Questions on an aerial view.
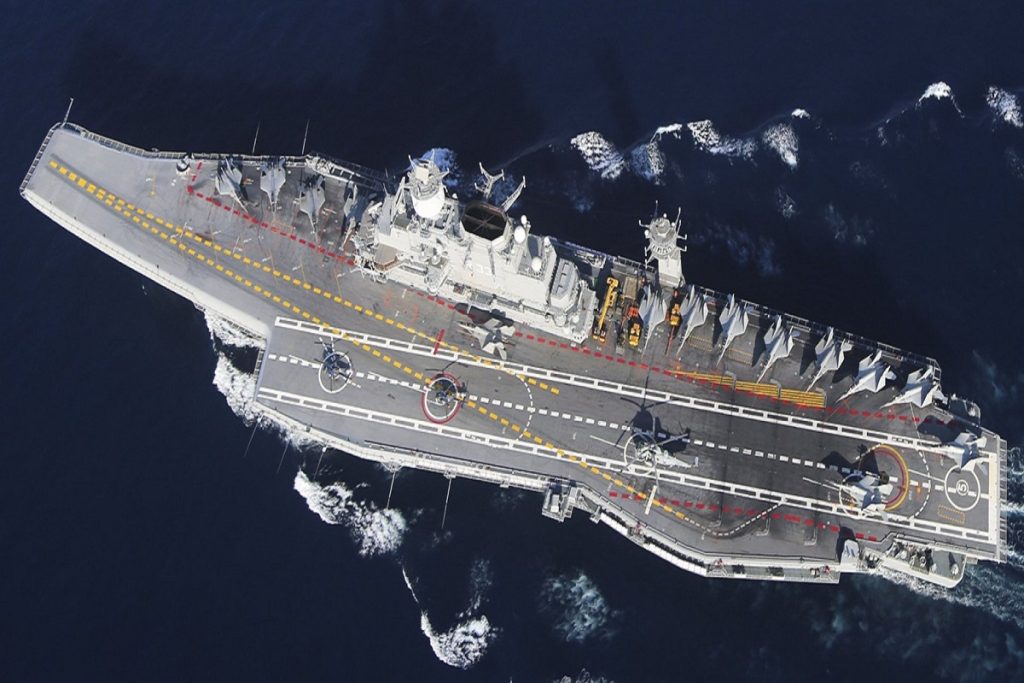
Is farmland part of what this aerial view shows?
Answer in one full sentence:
No, there is no farmland in the image.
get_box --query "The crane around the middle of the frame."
[595,276,619,331]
